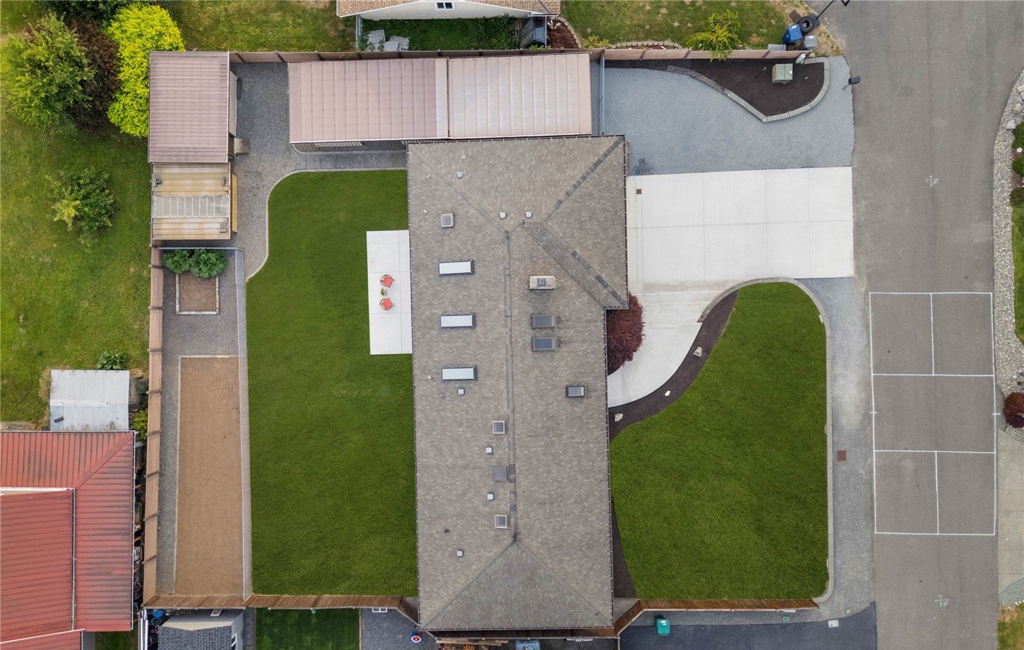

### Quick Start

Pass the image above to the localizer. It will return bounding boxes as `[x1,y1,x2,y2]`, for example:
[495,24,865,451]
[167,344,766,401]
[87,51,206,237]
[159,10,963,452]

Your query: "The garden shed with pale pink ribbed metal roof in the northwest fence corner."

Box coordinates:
[148,52,237,162]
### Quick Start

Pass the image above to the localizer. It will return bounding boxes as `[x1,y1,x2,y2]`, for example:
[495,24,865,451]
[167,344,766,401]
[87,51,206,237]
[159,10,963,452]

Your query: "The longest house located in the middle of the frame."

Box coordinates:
[405,134,631,633]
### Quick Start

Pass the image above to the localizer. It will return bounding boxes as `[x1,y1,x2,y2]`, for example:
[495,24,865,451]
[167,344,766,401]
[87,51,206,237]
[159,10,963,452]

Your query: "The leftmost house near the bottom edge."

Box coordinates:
[0,430,136,650]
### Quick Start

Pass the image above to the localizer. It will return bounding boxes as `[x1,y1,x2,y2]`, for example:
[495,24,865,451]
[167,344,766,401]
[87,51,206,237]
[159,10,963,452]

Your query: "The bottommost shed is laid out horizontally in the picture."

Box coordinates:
[160,612,246,650]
